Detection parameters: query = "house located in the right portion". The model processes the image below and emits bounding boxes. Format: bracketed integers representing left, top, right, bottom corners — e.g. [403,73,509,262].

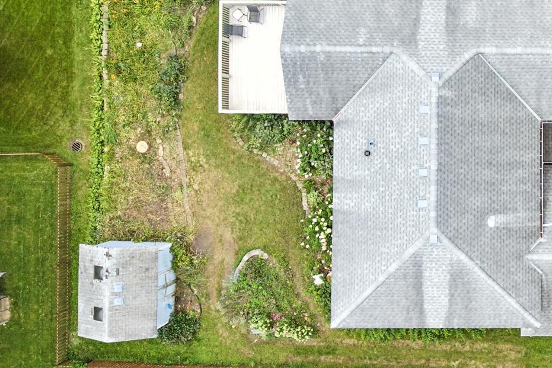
[280,0,552,336]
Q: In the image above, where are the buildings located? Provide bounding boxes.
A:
[280,0,552,336]
[79,241,175,347]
